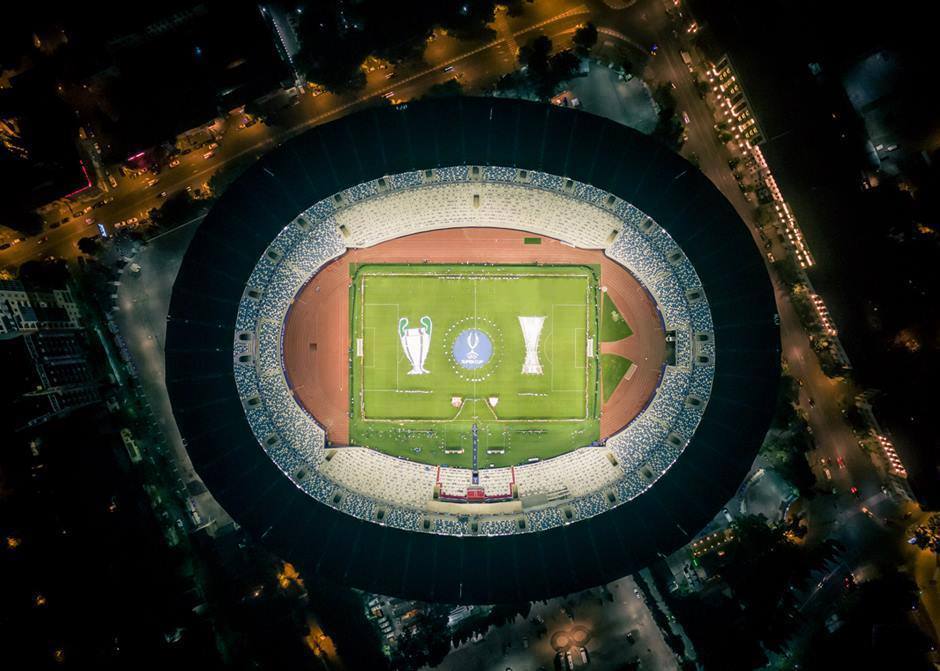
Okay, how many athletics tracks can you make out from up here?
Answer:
1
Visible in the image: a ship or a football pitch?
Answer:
football pitch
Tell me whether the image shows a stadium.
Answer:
Yes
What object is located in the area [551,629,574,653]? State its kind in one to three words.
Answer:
fountain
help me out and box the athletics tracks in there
[283,197,681,492]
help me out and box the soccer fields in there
[350,263,600,470]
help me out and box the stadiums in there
[166,97,780,602]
